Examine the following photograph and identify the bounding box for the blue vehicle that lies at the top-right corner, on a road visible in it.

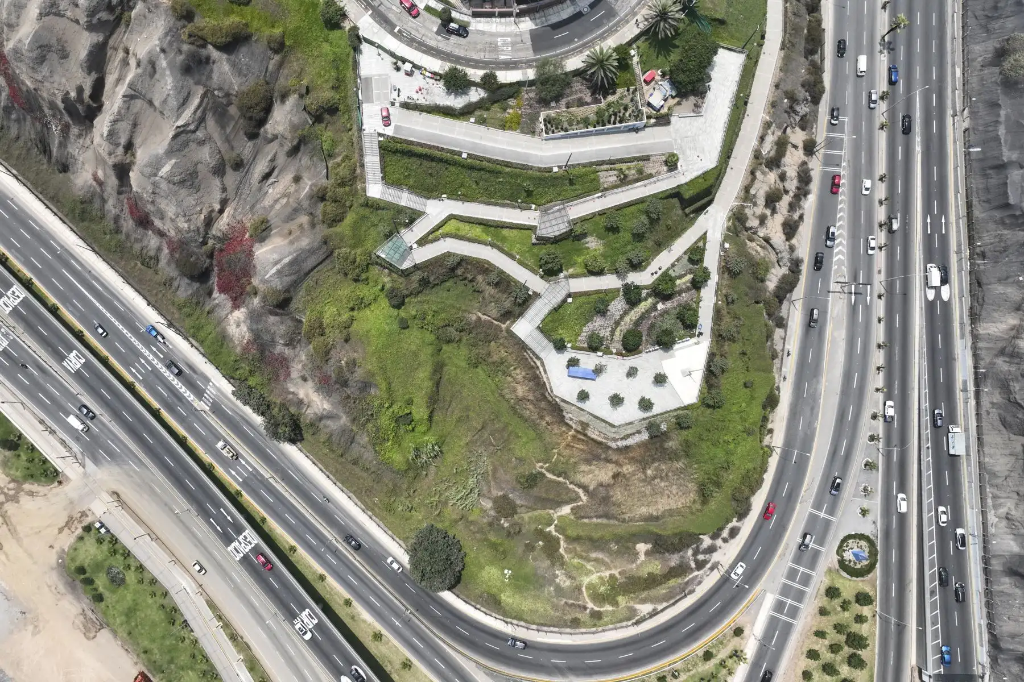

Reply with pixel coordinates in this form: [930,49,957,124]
[887,64,899,85]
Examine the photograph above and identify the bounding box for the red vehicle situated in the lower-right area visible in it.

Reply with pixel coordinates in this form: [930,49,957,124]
[762,500,776,521]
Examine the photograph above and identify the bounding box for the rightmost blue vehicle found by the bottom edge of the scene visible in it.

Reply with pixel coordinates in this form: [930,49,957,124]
[940,644,952,666]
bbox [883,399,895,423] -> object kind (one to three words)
vehicle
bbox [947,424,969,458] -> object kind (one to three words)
truck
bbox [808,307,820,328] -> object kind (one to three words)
vehicle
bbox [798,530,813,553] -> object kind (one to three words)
car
